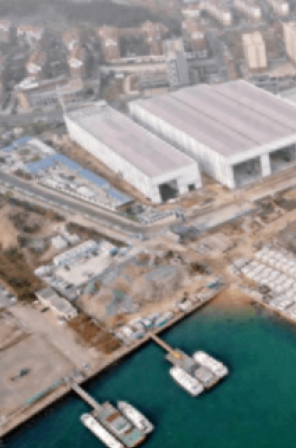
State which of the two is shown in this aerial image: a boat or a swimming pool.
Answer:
boat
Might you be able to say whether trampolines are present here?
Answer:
No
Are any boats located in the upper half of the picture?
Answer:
No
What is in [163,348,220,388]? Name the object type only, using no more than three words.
pier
